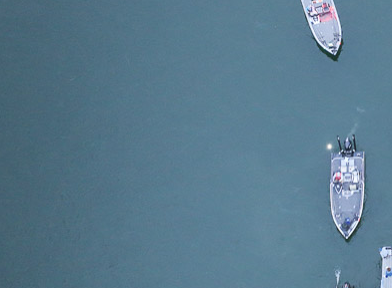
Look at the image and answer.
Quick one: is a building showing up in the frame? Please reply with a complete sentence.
No, the scene contains no building.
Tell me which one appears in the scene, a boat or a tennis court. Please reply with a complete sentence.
Looking from above, you can make out a boat.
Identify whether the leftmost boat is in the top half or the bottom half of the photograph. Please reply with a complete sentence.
The leftmost boat is in the top half of the image.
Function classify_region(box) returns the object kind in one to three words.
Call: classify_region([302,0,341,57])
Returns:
boat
